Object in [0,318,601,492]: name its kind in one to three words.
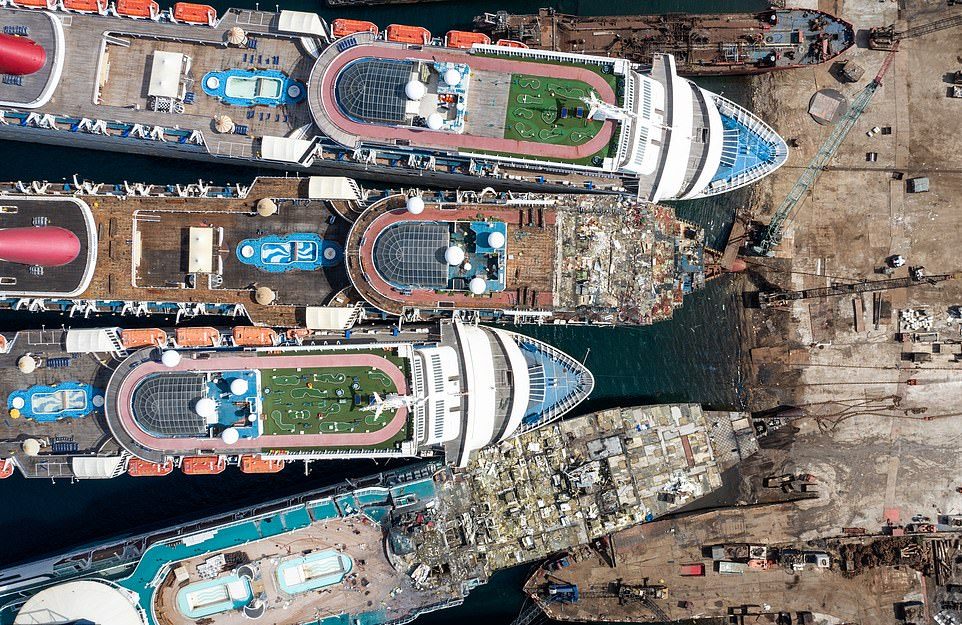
ship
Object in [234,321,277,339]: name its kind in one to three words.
boat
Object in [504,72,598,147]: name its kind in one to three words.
golf course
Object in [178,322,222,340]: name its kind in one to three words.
boat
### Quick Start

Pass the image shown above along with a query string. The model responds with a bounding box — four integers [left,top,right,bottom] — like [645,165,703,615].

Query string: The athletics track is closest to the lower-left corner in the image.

[118,350,412,451]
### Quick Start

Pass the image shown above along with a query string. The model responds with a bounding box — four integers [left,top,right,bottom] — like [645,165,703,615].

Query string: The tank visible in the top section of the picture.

[807,87,847,126]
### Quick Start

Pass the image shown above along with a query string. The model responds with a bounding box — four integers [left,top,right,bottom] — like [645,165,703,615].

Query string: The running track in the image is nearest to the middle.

[357,206,551,309]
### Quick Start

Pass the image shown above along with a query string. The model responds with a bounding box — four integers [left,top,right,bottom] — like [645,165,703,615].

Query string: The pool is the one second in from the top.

[235,232,343,273]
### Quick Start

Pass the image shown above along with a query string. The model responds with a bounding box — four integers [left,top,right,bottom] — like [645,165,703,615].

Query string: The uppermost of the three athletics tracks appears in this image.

[319,43,613,161]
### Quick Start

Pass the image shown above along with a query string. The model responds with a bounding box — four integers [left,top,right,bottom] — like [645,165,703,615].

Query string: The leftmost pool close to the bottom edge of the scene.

[177,571,257,617]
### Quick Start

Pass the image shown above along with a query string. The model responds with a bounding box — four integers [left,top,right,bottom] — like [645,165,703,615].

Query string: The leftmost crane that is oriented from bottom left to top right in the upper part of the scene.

[741,38,908,263]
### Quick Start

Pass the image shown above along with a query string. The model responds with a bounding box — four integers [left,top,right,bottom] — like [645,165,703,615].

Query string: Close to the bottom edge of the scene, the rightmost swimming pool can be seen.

[276,546,355,595]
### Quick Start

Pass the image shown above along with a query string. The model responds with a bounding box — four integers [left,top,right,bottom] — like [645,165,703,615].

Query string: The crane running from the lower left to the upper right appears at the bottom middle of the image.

[520,577,581,625]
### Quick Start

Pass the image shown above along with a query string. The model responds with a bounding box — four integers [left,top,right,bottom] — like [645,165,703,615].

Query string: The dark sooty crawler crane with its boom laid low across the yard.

[744,274,955,309]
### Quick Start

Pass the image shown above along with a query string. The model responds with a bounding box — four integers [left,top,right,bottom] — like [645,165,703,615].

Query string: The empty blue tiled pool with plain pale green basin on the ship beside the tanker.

[200,65,307,109]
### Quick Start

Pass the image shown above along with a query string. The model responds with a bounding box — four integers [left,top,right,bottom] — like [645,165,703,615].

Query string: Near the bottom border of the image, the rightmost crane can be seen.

[631,577,676,625]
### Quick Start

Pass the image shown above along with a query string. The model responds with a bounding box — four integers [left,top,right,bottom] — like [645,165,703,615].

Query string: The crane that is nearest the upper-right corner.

[860,8,962,55]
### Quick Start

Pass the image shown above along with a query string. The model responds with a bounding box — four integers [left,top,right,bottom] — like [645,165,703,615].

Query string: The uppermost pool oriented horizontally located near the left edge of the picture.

[4,382,108,423]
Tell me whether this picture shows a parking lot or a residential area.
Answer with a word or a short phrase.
parking lot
